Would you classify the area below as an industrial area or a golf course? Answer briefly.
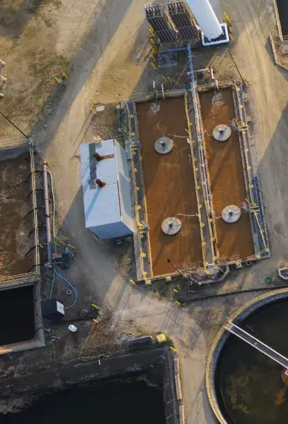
industrial area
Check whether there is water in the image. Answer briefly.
Yes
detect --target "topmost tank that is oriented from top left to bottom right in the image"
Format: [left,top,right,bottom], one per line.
[184,0,230,46]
